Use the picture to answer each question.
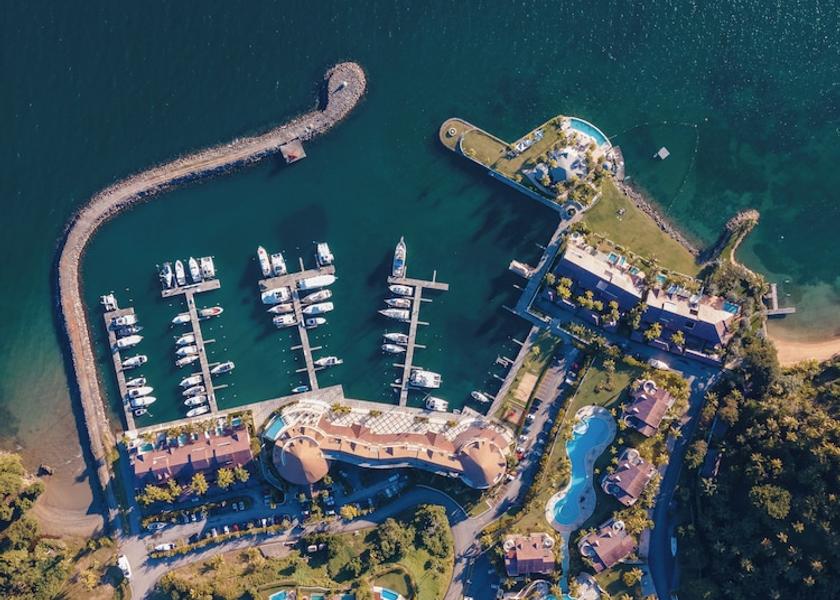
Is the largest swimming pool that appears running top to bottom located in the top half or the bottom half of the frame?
bottom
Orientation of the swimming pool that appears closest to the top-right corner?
on a diagonal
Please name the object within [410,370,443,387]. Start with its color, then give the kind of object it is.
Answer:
white boat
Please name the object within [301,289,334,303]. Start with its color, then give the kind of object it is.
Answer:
white boat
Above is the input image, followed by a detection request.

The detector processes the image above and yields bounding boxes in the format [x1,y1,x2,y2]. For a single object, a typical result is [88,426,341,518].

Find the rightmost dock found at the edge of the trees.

[764,284,796,314]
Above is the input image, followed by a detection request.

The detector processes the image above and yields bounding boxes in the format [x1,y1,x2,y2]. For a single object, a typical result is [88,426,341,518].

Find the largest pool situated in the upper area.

[570,119,607,148]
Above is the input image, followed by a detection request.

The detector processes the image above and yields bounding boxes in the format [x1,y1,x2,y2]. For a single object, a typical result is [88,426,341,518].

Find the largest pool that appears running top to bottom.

[546,405,617,533]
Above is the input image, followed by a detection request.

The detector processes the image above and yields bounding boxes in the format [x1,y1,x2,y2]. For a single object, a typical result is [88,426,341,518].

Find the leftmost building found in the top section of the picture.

[281,140,306,163]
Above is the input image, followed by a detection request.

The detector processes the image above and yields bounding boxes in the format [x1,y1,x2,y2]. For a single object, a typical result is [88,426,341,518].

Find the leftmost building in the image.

[135,424,260,490]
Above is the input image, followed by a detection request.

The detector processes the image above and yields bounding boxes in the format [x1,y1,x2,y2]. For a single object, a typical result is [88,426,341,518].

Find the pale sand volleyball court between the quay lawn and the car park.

[513,372,537,403]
